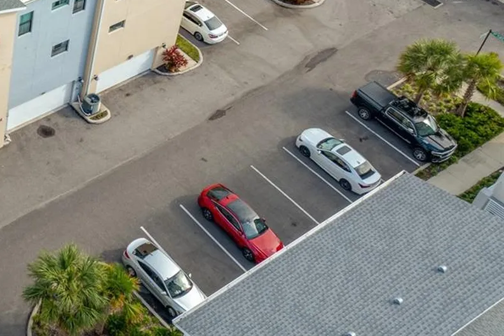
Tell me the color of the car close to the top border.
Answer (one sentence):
The color of the car close to the top border is white.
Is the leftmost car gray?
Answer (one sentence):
Yes, the leftmost car appears gray.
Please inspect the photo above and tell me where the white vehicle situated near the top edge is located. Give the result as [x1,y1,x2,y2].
[185,0,232,45]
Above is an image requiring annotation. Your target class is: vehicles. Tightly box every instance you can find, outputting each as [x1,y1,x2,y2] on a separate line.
[123,237,205,318]
[185,0,232,45]
[297,132,385,198]
[346,85,459,170]
[198,186,285,265]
